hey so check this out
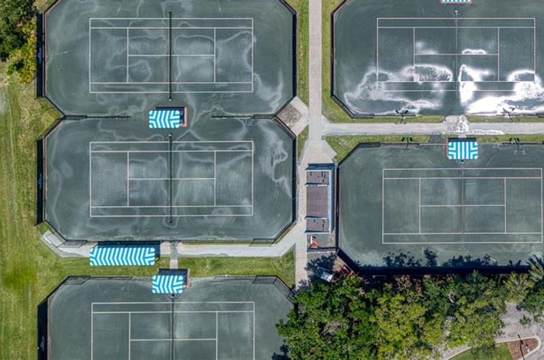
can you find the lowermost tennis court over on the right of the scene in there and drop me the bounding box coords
[338,143,544,271]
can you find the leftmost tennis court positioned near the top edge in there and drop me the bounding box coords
[45,0,293,117]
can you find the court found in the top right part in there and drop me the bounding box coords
[332,0,544,116]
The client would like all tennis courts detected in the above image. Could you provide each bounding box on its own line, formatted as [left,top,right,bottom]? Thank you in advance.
[46,277,294,360]
[332,0,544,116]
[338,143,544,271]
[45,0,293,117]
[45,117,293,242]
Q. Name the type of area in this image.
sports ground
